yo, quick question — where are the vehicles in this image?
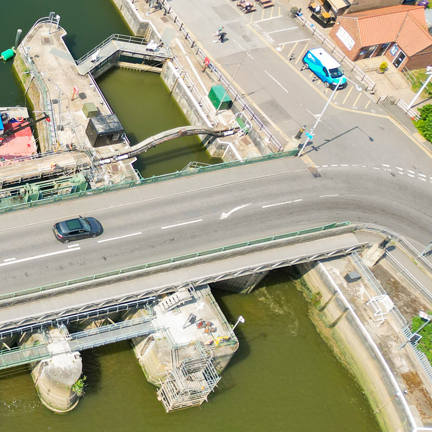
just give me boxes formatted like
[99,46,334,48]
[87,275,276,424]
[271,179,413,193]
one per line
[53,214,102,242]
[301,44,348,89]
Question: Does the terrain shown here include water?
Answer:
Yes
